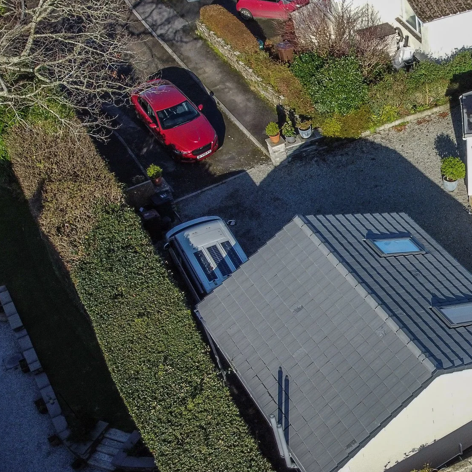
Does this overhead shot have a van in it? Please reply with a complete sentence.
Yes, you can see a van in this photo.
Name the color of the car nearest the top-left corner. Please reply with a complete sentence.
In this view, the car nearest the top-left corner is red.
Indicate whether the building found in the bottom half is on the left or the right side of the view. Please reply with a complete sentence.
The building found in the bottom half sits on the right side.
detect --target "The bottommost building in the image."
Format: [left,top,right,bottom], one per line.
[193,210,472,472]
